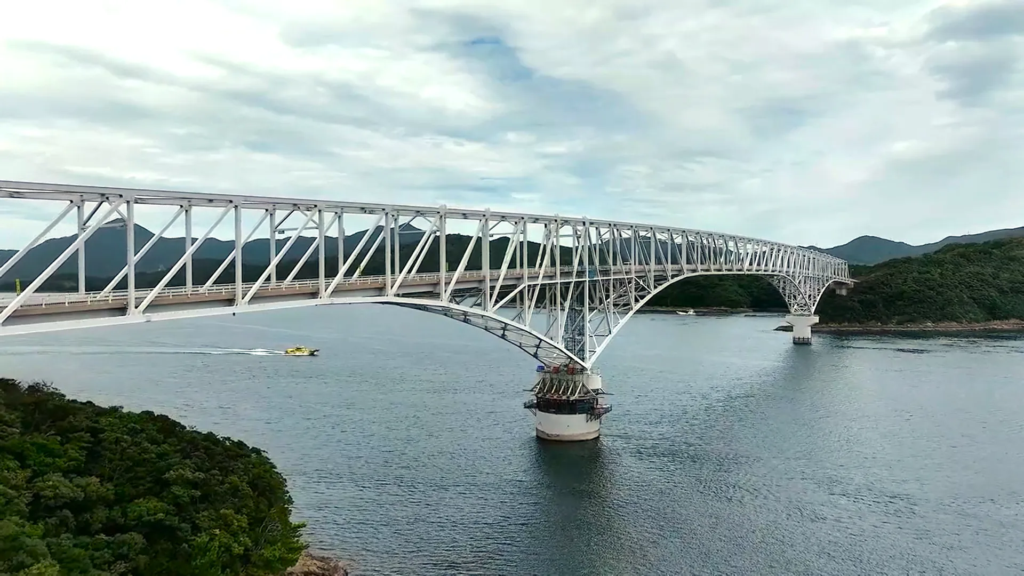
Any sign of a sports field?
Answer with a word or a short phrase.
No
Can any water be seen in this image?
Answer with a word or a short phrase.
Yes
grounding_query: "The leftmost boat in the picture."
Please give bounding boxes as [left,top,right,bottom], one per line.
[285,343,320,355]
